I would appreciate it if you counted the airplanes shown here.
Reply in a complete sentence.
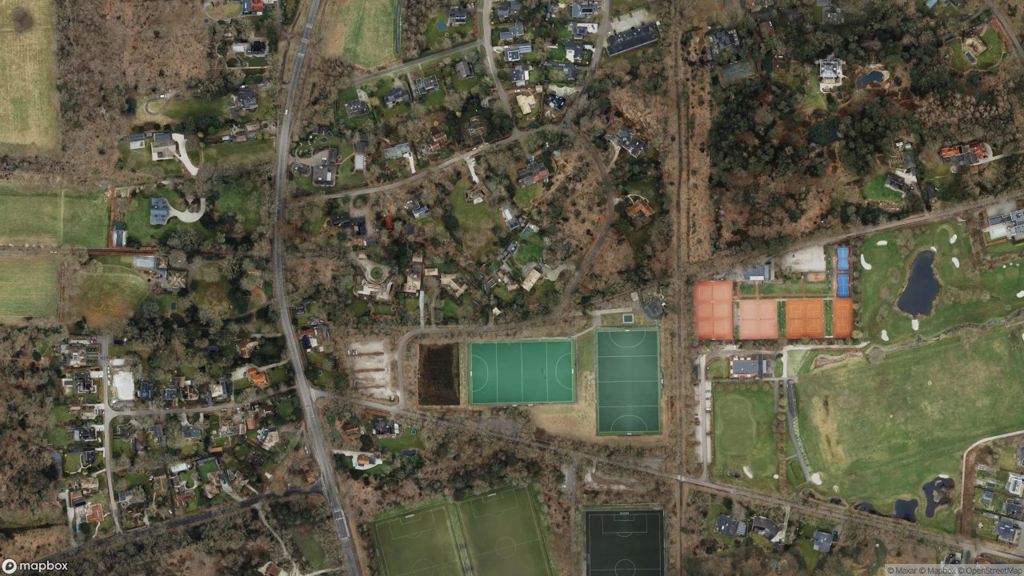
There are no airplanes in the image.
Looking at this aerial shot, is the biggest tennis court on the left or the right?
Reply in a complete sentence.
It is on the right.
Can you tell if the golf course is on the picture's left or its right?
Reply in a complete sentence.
You can find the golf course on the right side of the picture.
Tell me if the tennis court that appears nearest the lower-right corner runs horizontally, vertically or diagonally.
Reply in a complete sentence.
The tennis court that appears nearest the lower-right corner has been laid out vertically relative to the frame.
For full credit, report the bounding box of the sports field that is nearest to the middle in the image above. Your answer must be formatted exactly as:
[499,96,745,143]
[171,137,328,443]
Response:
[468,339,576,406]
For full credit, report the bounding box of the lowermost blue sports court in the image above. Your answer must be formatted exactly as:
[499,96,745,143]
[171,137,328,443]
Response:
[834,273,853,298]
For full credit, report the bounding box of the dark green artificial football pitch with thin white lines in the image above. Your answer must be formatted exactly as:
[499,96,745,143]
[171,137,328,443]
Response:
[586,509,664,576]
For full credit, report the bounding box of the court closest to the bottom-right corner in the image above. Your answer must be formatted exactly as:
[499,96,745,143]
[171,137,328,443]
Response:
[833,299,853,338]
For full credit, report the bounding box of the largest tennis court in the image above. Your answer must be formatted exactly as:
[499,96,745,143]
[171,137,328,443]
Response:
[694,281,733,340]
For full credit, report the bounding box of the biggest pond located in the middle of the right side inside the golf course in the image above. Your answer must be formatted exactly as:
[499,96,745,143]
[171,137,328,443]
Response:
[898,250,942,315]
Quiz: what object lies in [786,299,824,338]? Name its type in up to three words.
tennis court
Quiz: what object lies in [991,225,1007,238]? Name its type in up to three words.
swimming pool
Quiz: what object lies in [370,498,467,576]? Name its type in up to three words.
soccer field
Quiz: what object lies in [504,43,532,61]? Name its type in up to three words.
house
